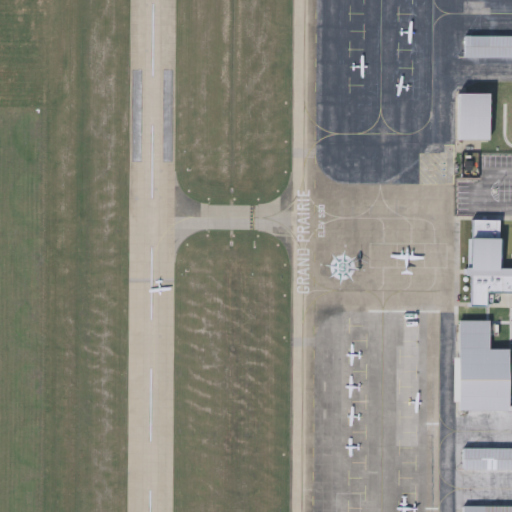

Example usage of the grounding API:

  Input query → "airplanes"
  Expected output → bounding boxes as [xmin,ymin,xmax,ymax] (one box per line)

[149,280,172,296]
[346,376,360,398]
[346,344,361,366]
[348,404,360,426]
[400,20,416,44]
[352,54,368,78]
[397,496,417,512]
[408,392,422,414]
[345,437,360,458]
[396,75,410,96]
[391,247,425,274]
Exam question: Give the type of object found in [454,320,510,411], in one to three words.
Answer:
hangar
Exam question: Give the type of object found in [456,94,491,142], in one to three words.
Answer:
hangar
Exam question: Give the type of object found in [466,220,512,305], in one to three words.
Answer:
building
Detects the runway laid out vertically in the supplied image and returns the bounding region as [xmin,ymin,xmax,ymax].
[128,0,176,512]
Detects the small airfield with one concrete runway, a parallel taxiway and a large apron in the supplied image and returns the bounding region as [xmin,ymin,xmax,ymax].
[128,0,512,512]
